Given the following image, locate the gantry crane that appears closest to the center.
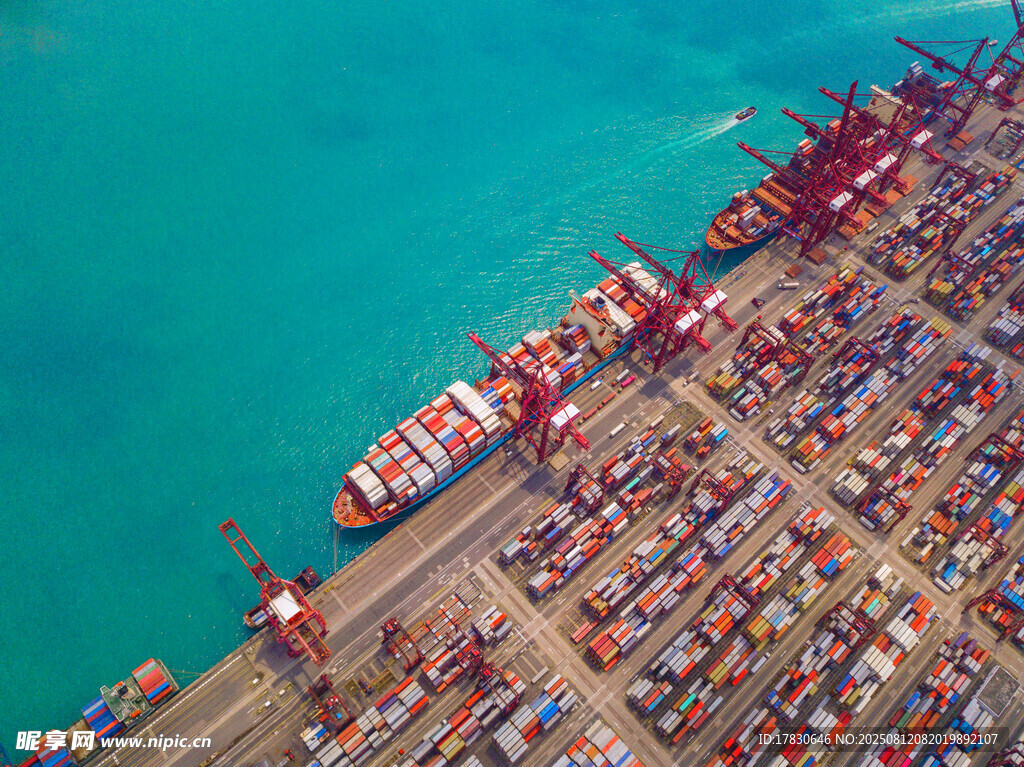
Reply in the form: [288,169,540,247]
[466,332,597,462]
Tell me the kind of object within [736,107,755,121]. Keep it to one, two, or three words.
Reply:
boat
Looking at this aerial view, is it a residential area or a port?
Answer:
port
